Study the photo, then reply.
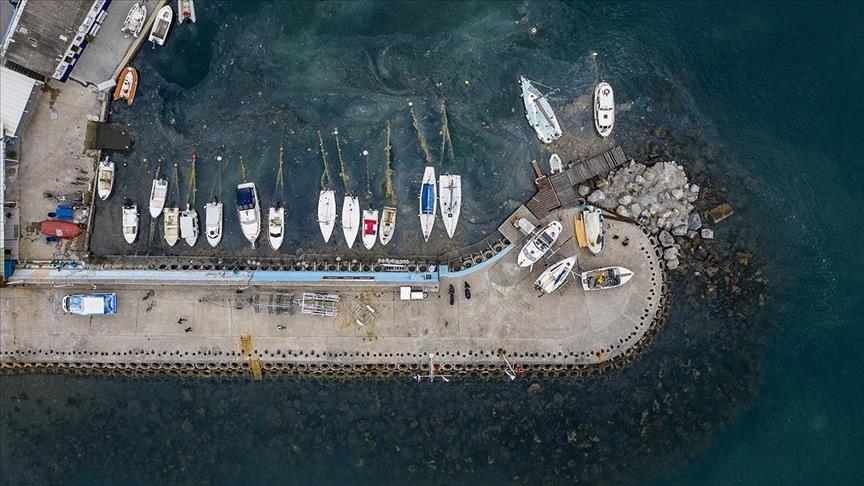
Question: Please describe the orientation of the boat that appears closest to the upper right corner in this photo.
vertically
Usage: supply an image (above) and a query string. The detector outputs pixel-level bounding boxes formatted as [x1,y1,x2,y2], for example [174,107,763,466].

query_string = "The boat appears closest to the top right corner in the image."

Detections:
[592,82,614,140]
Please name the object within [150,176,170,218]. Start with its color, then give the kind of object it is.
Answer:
white boat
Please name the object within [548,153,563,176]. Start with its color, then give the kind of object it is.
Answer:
white boat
